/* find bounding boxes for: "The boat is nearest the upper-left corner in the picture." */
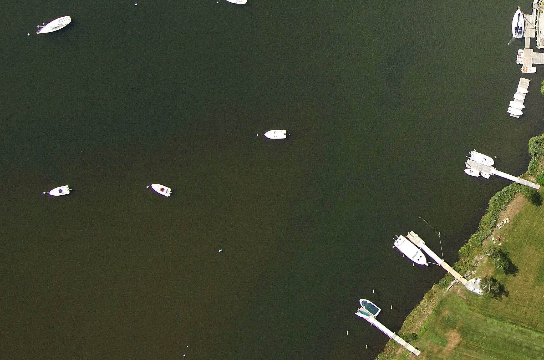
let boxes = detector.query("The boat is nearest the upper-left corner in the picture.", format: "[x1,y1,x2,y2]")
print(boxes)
[36,15,73,33]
